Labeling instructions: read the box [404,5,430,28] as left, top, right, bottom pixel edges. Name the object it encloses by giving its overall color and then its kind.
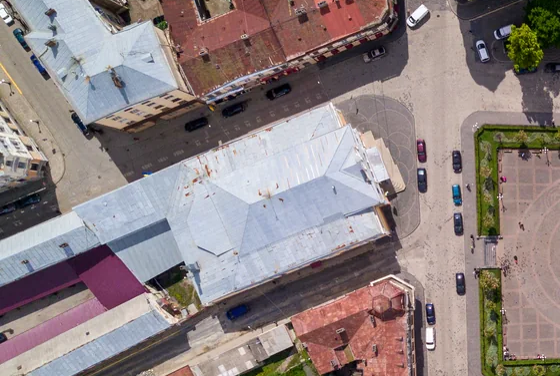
white vehicle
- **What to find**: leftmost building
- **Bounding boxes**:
[0,100,47,192]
